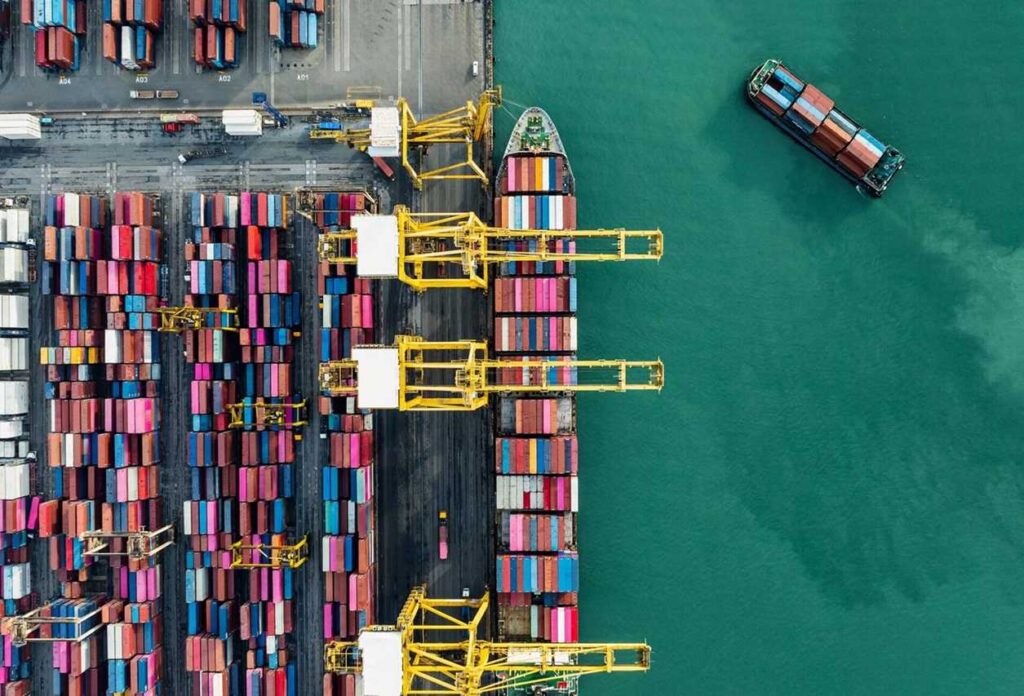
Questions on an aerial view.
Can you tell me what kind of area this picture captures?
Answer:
port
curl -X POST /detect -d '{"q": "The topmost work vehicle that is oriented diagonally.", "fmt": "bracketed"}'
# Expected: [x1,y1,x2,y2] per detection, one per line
[253,86,287,127]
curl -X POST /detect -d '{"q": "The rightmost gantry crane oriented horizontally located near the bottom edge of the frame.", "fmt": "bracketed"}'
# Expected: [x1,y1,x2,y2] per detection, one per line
[317,582,653,696]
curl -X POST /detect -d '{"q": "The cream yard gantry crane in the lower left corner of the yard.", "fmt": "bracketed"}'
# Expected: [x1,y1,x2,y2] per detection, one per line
[0,599,108,643]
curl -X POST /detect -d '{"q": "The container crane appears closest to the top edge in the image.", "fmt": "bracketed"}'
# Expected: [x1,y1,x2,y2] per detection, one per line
[310,81,503,193]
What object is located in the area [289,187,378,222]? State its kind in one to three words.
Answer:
container crane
